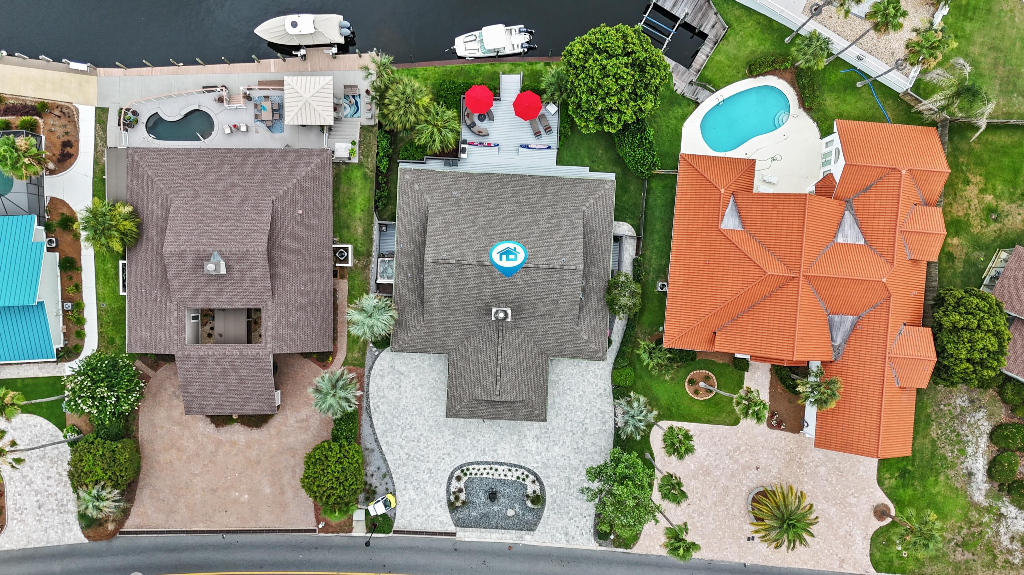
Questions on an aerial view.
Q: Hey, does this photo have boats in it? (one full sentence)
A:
Yes, there is a boat in the image.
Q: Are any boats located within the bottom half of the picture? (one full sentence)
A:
No, the scene shows no boat within the bottom half of the picture.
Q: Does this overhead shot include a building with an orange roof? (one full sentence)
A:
Yes, a building with an orange roof is visible in the scene.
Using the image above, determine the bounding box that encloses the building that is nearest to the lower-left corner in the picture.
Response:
[0,214,68,364]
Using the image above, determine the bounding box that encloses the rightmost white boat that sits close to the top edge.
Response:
[447,21,540,58]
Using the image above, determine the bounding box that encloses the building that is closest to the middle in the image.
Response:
[389,166,616,423]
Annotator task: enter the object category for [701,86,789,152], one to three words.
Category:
swimming pool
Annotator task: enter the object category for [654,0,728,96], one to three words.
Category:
pier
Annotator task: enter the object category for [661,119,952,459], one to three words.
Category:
house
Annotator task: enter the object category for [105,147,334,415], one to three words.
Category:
house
